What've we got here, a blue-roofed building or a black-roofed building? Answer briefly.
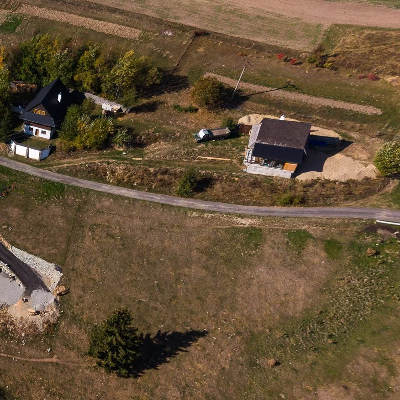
black-roofed building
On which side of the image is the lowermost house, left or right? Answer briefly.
right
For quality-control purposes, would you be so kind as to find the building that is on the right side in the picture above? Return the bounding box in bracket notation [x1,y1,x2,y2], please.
[242,109,308,174]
